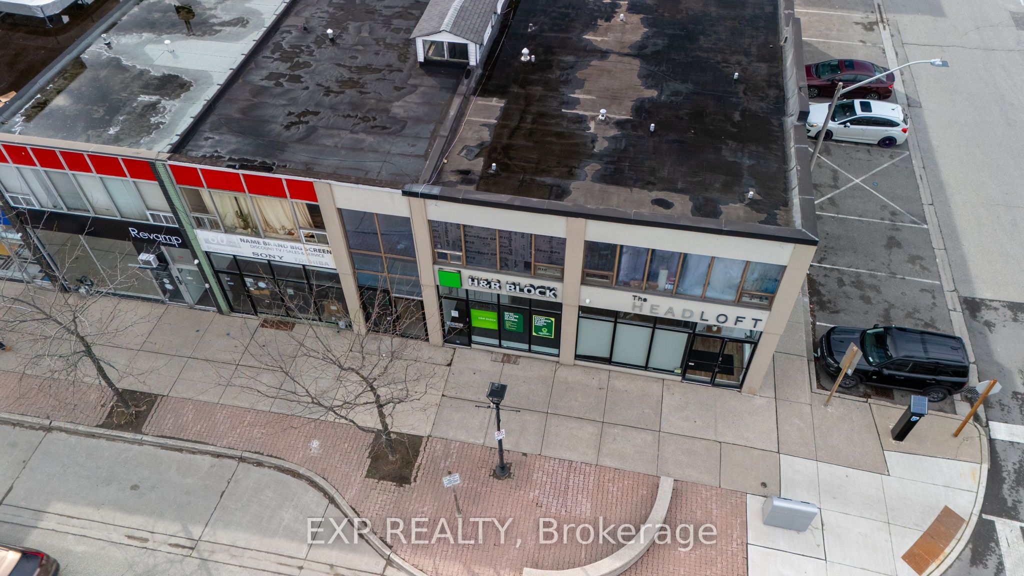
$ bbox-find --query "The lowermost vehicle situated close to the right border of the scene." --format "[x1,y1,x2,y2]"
[822,321,974,403]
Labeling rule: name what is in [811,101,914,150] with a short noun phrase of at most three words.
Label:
car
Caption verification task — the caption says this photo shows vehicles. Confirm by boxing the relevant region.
[811,101,914,150]
[822,321,974,403]
[806,60,898,103]
[0,533,57,576]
